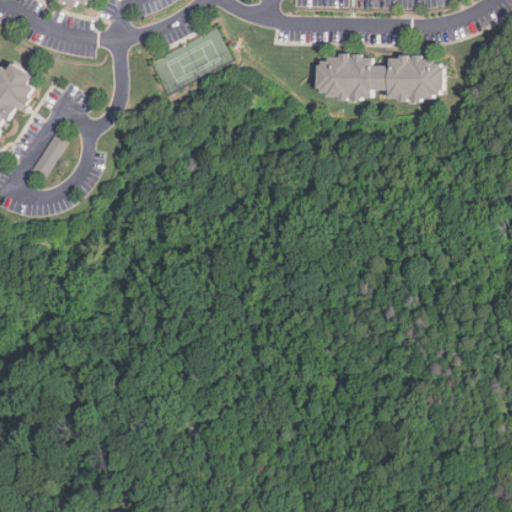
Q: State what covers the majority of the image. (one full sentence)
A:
The bulk of the photo consists of trees.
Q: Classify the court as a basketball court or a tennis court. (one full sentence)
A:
In the photo, the court shows up as a tennis court.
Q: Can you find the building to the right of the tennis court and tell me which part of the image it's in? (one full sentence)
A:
The building to the right of the tennis court sits in the top right section of the image.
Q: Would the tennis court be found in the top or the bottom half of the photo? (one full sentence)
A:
The tennis court sits in the top half of the picture.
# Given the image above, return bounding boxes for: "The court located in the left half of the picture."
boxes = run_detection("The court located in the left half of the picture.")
[154,30,233,94]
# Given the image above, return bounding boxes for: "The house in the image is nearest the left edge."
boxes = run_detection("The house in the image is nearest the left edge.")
[0,56,36,128]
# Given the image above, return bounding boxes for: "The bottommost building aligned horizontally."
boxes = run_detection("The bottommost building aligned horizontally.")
[317,54,448,104]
